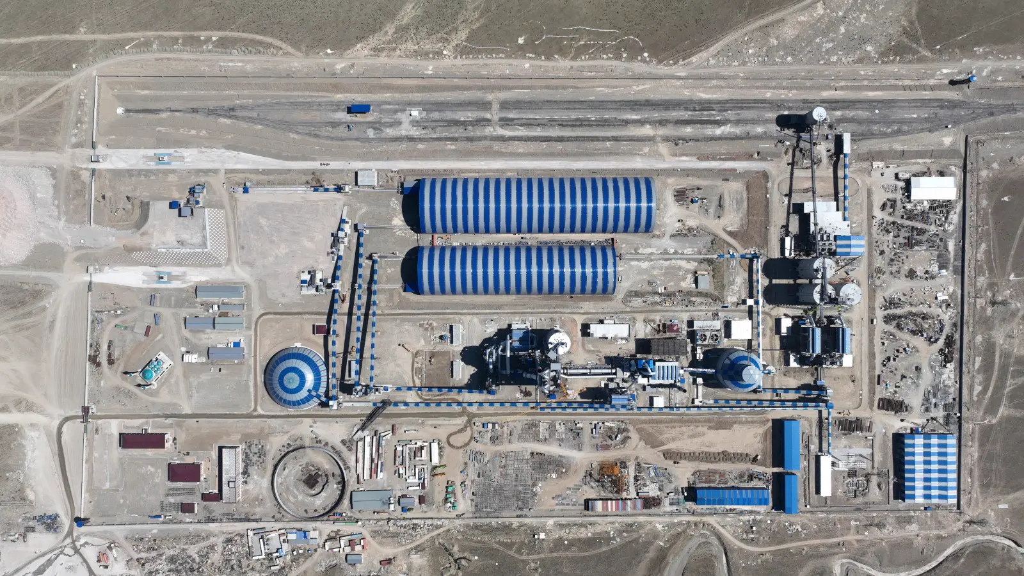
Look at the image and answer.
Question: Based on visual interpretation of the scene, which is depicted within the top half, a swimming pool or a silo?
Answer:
silo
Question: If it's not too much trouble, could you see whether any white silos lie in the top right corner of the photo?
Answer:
Yes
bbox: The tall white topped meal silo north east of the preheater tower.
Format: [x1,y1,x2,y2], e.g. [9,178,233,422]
[545,328,571,355]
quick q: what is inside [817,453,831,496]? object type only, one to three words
shed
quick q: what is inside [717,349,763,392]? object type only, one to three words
silo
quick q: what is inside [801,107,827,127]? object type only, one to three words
silo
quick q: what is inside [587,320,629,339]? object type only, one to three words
building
